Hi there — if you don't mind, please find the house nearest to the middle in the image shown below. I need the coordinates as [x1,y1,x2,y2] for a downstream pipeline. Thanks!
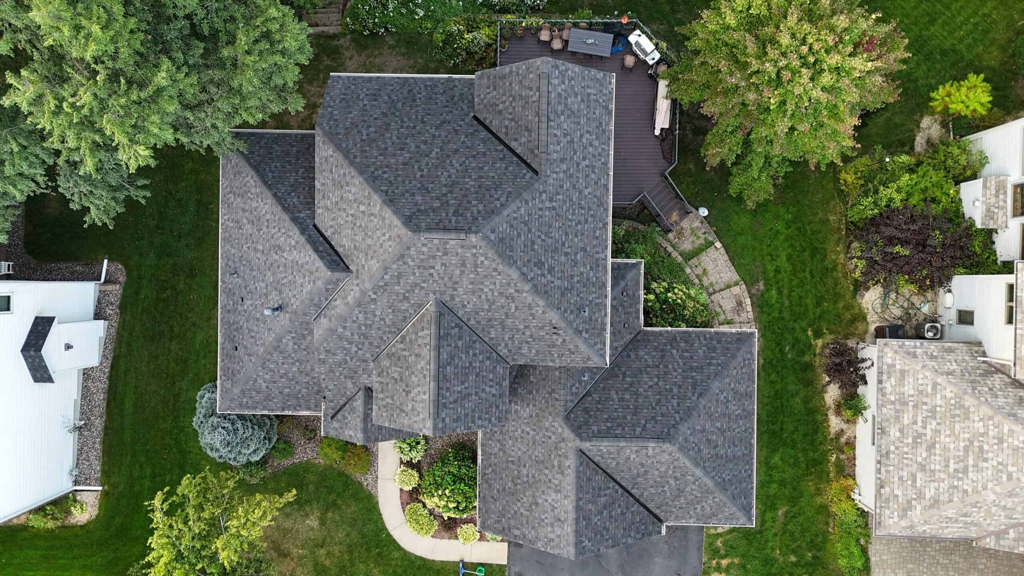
[216,55,758,561]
